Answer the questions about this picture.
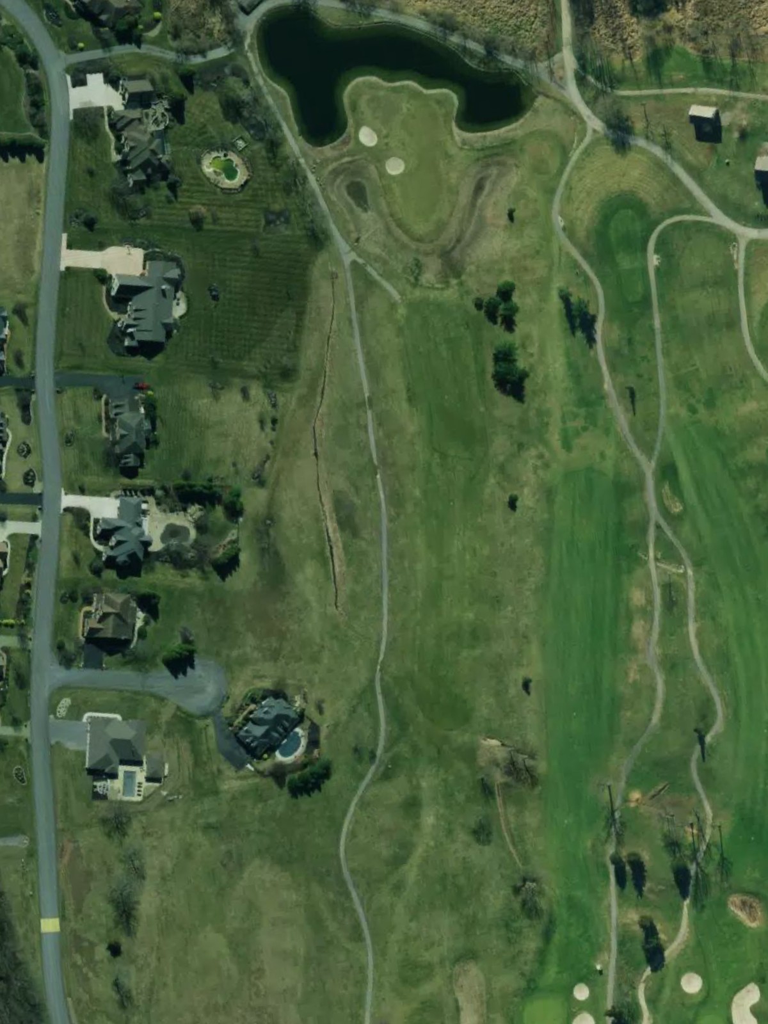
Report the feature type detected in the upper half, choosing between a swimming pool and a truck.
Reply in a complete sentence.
You can see a swimming pool in the upper half.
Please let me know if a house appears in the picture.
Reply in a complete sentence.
Yes, a house can be made out from above.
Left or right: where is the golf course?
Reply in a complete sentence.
The golf course is on the right side of the image.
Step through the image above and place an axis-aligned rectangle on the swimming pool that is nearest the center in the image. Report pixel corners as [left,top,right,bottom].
[160,522,191,544]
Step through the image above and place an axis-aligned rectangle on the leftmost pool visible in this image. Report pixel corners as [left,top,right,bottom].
[122,772,137,797]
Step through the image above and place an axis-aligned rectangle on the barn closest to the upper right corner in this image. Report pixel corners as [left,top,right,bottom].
[685,106,718,126]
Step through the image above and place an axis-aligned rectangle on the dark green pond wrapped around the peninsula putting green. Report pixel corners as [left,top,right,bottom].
[260,6,531,144]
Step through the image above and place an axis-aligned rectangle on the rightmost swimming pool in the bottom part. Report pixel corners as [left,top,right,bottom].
[277,730,302,759]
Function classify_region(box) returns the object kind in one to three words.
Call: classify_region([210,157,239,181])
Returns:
swimming pool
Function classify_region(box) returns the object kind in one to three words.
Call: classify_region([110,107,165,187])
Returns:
house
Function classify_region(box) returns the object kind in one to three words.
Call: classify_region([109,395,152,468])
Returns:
house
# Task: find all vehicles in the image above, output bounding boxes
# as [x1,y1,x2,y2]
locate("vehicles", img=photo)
[137,383,147,388]
[245,763,255,771]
